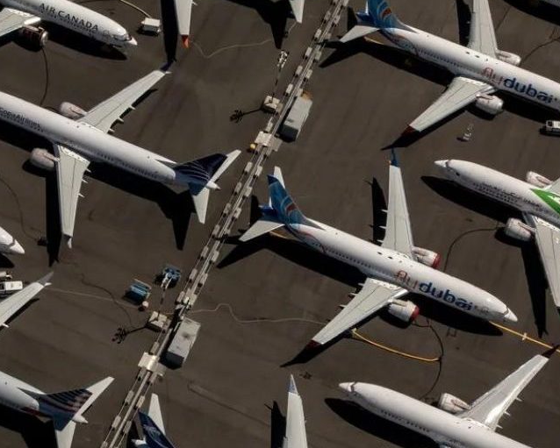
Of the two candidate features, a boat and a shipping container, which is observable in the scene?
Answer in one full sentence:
There is a shipping container in the scene.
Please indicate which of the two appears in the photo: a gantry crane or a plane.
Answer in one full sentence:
It is a plane that can be seen here.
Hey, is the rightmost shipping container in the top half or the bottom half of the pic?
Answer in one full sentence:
Seen from above, the rightmost shipping container lies in the top half of the view.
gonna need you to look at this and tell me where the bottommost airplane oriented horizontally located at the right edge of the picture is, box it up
[337,344,559,448]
